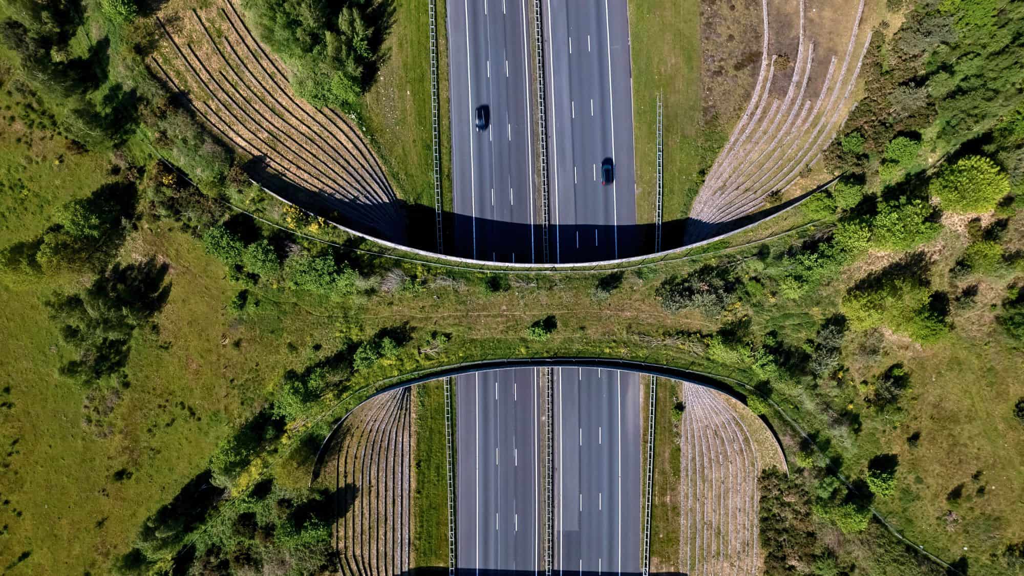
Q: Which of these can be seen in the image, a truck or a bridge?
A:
bridge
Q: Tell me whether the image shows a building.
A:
No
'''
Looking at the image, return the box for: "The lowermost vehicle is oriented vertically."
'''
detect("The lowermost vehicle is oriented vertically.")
[600,161,613,187]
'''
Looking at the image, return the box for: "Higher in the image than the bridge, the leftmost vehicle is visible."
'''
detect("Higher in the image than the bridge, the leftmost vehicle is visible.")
[474,105,487,132]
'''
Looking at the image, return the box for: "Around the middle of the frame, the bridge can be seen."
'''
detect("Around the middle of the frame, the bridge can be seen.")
[249,173,845,487]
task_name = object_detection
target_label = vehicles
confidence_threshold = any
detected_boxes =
[474,105,487,132]
[600,161,613,187]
